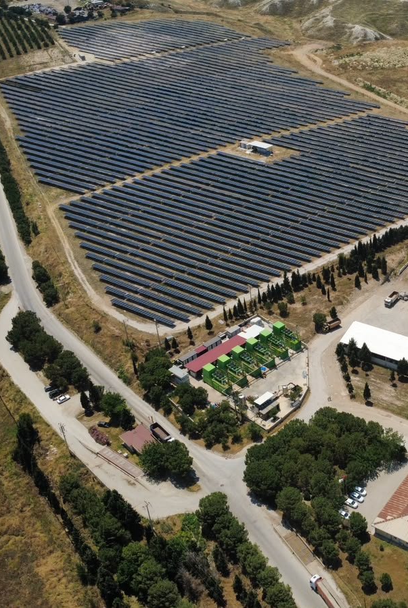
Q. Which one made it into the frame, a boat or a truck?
truck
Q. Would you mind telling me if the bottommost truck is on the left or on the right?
right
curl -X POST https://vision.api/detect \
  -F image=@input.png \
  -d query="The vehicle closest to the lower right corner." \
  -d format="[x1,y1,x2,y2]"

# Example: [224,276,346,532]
[309,568,348,608]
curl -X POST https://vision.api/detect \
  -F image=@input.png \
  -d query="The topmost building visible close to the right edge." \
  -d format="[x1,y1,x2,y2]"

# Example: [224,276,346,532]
[338,320,408,379]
